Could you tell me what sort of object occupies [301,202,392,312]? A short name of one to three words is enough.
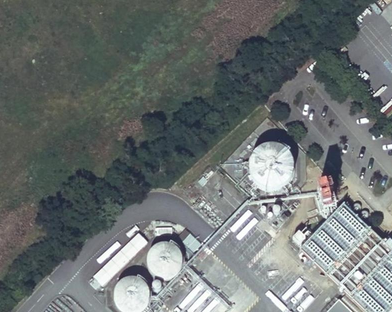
building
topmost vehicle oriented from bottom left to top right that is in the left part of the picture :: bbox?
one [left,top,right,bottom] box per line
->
[124,226,140,241]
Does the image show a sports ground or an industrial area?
industrial area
